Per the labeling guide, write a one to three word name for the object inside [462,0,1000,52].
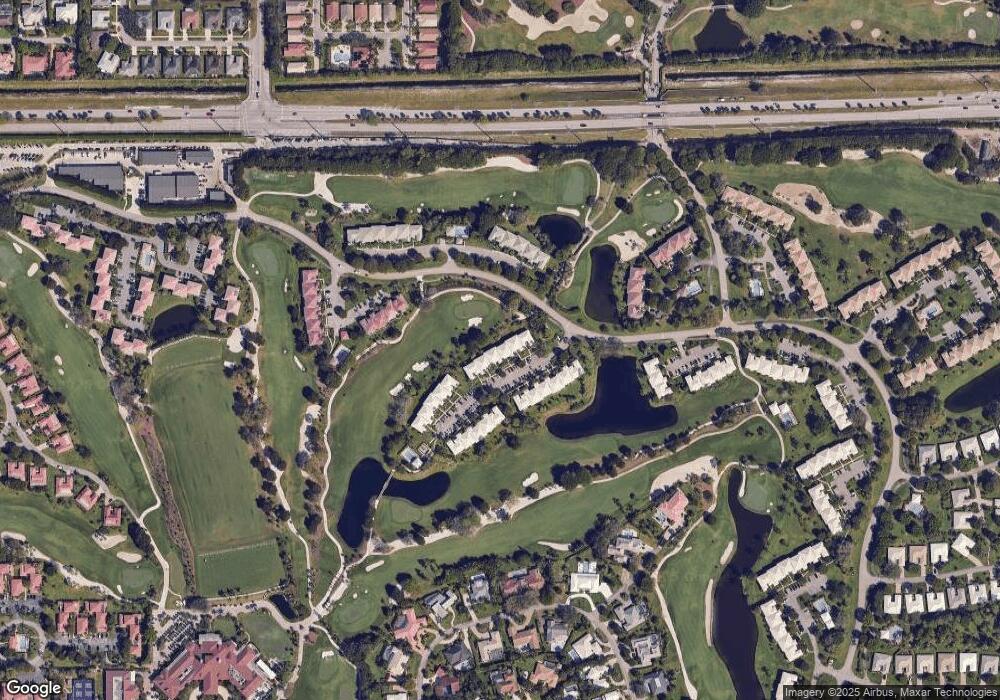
golf course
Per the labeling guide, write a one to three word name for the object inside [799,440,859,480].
building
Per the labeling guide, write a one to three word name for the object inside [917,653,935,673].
house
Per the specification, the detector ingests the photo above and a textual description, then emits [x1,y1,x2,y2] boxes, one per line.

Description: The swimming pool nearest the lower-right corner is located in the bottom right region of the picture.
[889,625,903,641]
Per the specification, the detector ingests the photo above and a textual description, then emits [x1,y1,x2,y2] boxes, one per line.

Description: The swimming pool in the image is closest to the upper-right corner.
[917,301,944,325]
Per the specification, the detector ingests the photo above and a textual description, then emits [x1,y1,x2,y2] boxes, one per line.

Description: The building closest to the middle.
[464,328,534,379]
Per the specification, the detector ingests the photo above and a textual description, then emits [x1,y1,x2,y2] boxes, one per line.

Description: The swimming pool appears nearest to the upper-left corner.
[139,249,156,271]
